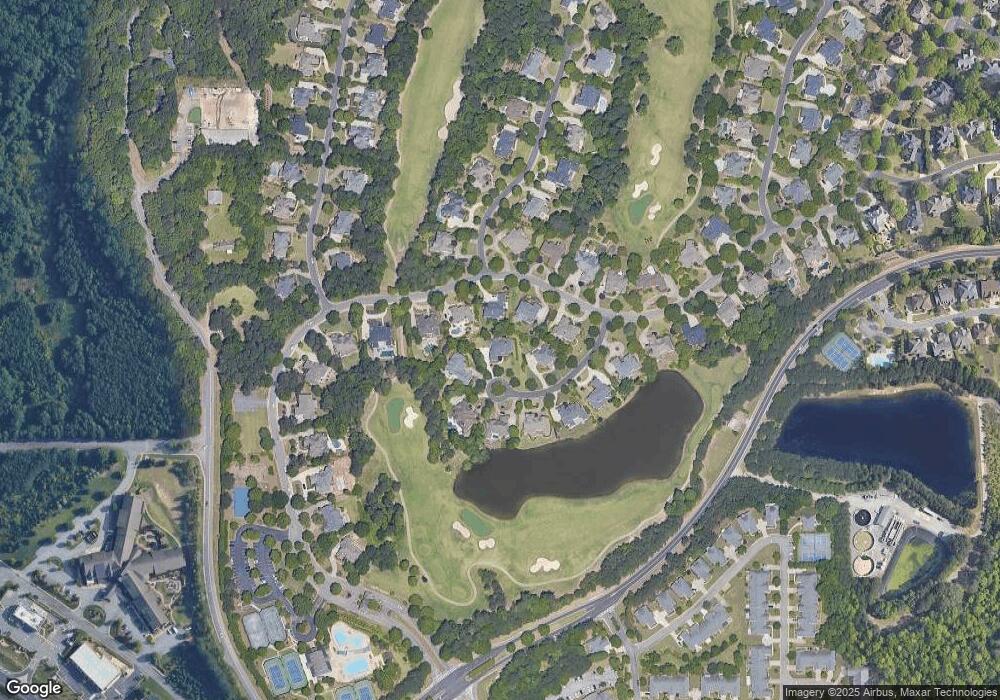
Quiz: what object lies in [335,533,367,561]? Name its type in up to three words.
house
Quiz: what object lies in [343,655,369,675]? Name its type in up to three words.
swimming pool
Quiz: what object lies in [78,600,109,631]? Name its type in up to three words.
roundabout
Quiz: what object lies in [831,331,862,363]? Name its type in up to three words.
tennis court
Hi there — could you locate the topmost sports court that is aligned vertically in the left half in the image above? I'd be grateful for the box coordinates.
[233,487,249,517]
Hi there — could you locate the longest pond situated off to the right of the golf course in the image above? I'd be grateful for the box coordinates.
[880,527,942,597]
